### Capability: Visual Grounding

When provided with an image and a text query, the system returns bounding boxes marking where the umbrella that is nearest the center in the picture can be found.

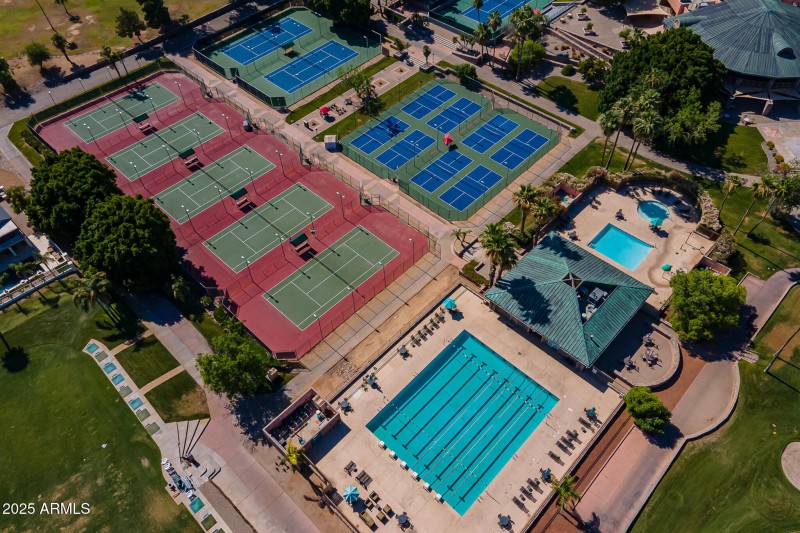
[442,295,458,309]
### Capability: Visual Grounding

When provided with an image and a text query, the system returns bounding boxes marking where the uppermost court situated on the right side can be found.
[432,0,559,44]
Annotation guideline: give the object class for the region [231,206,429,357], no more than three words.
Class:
tennis court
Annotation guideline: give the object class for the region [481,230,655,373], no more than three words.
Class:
building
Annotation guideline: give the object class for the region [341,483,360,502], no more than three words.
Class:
umbrella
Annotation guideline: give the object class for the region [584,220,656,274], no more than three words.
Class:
swimming pool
